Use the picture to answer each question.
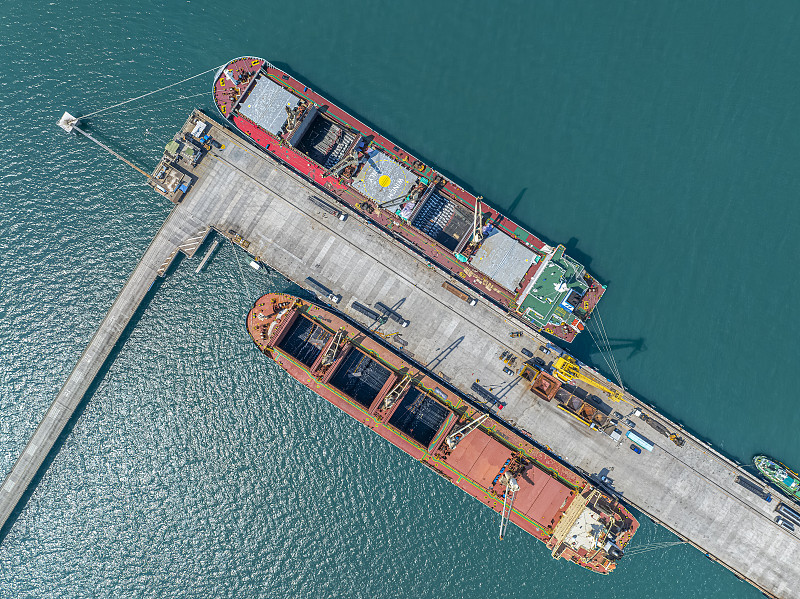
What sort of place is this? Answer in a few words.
port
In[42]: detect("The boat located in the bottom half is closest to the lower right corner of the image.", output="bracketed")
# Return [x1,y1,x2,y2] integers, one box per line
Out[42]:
[752,455,800,505]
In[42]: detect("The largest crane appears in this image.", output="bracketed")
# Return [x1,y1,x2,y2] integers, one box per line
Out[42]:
[542,347,626,403]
